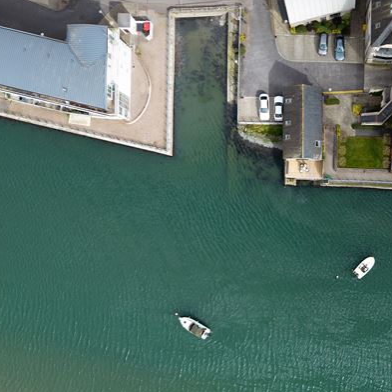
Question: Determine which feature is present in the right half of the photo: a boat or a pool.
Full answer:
Looking in the right half of the photo, you will find a boat.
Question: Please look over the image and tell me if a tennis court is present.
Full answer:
No, there is no tennis court in the image.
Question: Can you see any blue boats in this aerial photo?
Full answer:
No, no blue boat is visible in the scene.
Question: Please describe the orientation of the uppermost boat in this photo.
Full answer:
The uppermost boat is laid out at an angle.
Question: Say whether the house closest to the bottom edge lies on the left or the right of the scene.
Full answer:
You can find the house closest to the bottom edge on the right side of the picture.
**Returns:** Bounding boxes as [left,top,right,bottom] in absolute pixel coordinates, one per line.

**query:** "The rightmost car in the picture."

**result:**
[334,36,346,62]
